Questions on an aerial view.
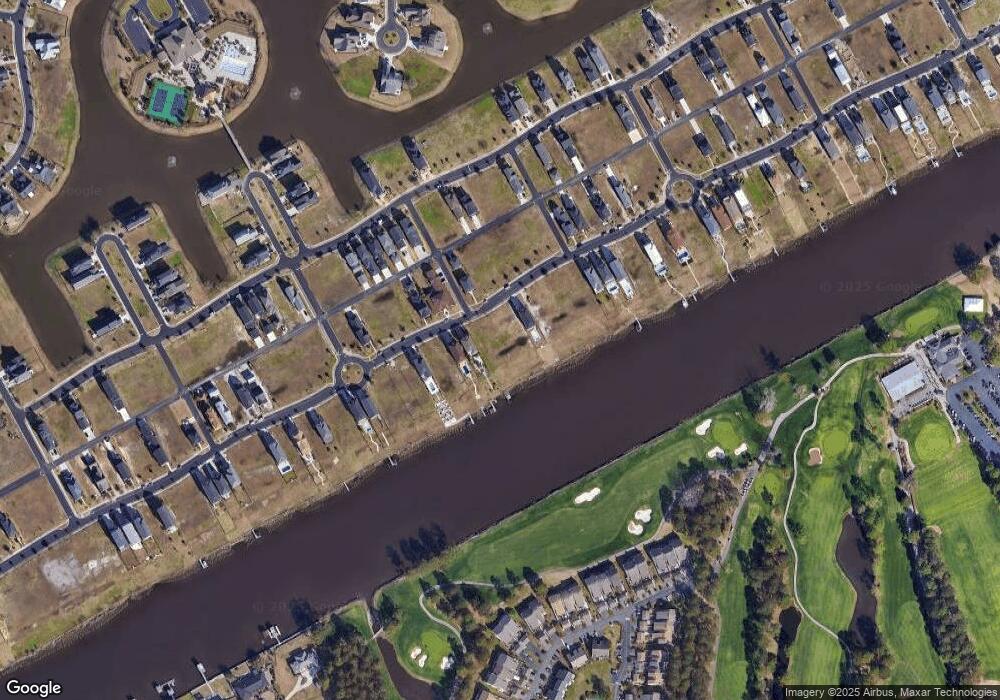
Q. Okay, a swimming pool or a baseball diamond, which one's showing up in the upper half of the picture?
swimming pool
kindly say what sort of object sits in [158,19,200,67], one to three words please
building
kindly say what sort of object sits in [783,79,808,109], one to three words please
house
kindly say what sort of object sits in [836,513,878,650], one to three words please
pond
